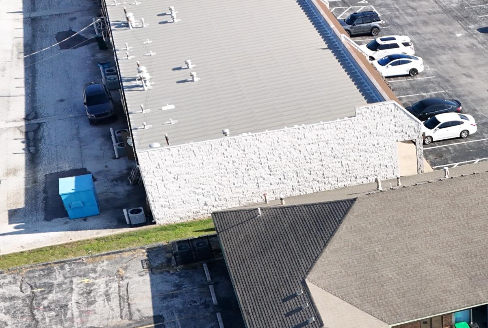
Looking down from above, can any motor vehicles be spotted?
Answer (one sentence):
Yes, the frame does contain a motor vehicle.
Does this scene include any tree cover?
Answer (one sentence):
No, the scene doesn't show any tree cover.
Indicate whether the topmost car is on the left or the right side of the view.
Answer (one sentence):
The topmost car is on the right side of the image.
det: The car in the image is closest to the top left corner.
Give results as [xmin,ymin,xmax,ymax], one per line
[83,80,117,124]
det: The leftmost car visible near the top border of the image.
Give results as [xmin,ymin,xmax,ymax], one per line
[340,8,383,36]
